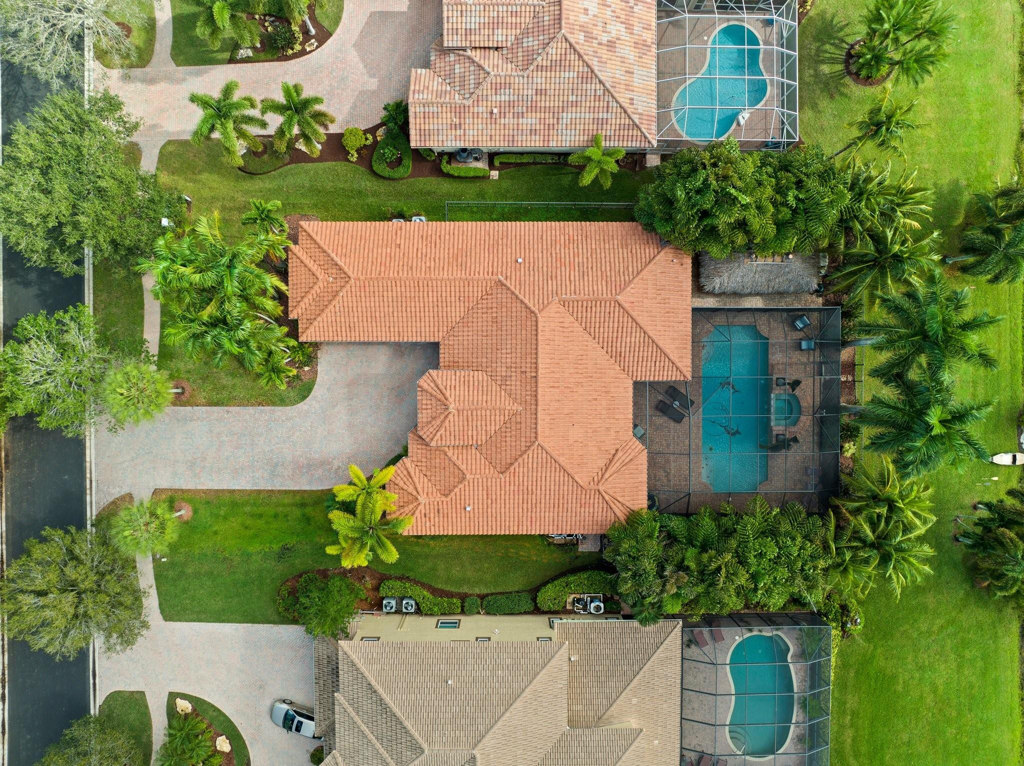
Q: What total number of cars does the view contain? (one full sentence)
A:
The picture shows just 1 car.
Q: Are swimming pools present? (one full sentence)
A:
Yes, the photo shows a swimming pool.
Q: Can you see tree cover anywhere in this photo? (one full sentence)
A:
Yes, there's tree cover in this view.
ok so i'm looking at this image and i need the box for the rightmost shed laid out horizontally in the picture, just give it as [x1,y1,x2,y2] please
[696,241,820,298]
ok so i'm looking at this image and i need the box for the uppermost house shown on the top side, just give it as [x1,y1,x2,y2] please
[407,0,658,155]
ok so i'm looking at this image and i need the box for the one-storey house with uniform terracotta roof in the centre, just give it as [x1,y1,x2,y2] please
[287,220,693,536]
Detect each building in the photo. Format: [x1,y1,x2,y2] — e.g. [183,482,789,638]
[696,241,820,298]
[287,220,693,536]
[407,0,658,155]
[312,613,684,766]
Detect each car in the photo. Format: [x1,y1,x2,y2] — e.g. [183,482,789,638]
[267,700,323,745]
